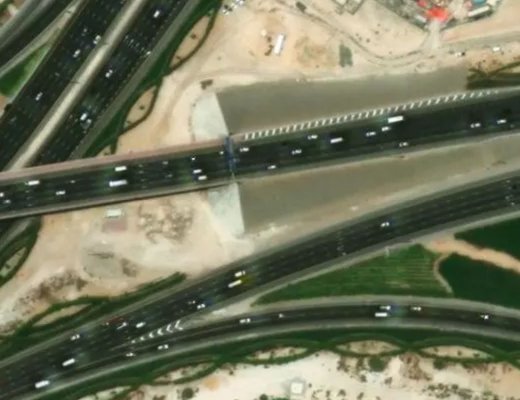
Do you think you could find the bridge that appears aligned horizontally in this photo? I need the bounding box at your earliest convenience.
[0,135,231,219]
